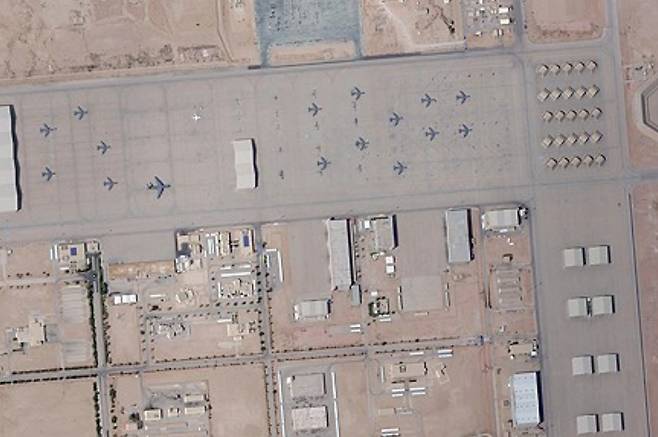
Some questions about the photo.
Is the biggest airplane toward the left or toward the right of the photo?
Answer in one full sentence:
The biggest airplane is on the left side of the image.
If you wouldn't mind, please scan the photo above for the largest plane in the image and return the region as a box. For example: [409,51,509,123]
[147,176,171,198]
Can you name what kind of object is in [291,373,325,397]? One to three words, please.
building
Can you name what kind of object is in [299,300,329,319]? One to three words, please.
hangar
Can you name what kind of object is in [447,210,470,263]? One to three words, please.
hangar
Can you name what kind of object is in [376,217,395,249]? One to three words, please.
building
